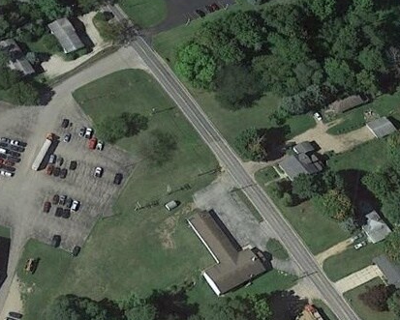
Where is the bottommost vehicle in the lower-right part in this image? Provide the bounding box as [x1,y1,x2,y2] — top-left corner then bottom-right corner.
[306,304,323,320]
